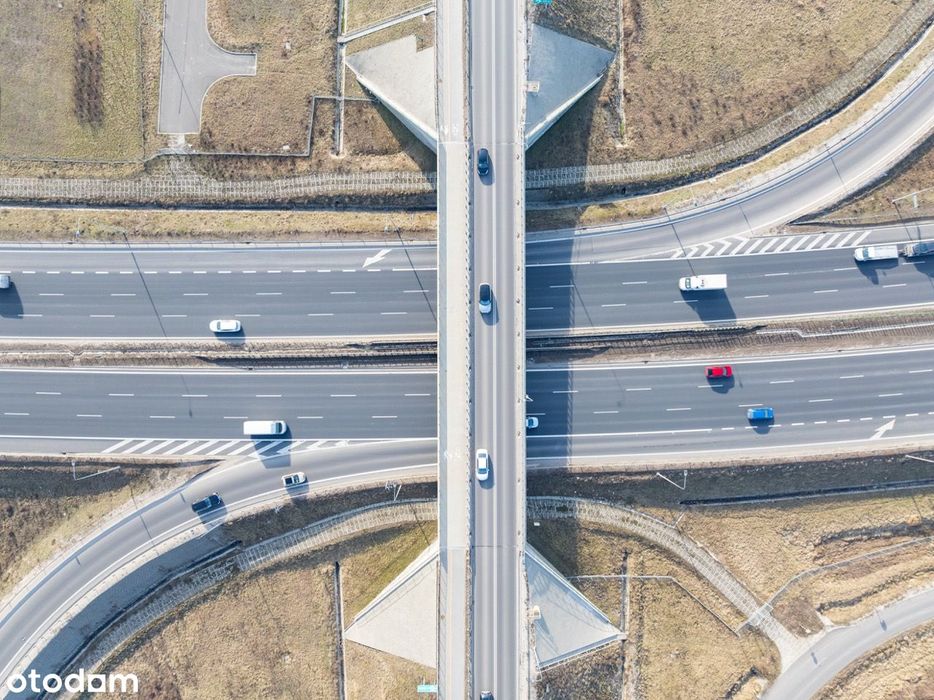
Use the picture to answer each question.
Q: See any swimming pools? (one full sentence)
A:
No, there appears to be no swimming pool in this shot.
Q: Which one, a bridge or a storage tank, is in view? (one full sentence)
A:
Of the two, only a bridge appears.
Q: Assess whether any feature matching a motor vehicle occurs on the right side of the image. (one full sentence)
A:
Yes, there is a motor vehicle on the right side of the image.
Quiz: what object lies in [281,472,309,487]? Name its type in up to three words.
car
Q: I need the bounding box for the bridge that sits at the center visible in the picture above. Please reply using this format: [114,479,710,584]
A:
[341,49,626,640]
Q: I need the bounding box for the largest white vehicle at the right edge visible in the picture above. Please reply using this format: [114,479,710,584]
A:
[852,246,898,262]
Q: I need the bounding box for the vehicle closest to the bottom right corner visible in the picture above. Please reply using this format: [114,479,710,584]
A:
[745,407,773,421]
